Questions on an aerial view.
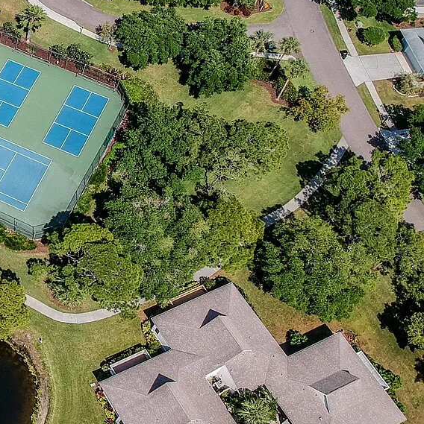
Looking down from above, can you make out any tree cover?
Yes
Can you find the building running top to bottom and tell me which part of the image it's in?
top right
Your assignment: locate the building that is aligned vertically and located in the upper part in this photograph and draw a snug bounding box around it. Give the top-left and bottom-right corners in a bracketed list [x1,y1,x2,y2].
[393,19,424,83]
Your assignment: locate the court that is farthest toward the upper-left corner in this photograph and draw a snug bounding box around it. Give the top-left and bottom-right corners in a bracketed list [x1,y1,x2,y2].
[0,59,41,128]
